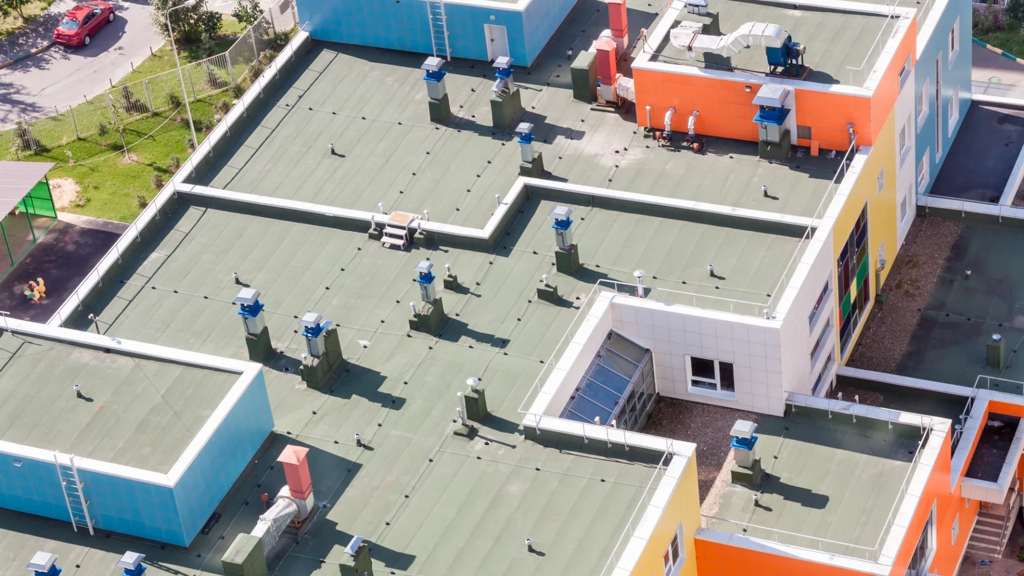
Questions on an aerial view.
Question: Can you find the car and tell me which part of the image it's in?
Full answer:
Look in the top left portion of the view to spot the car.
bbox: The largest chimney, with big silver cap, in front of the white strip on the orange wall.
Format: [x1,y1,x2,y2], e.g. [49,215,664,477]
[750,86,790,162]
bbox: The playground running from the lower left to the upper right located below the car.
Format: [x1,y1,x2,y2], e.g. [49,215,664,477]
[0,219,125,326]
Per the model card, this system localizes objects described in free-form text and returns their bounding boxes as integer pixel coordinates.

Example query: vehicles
[54,0,115,44]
